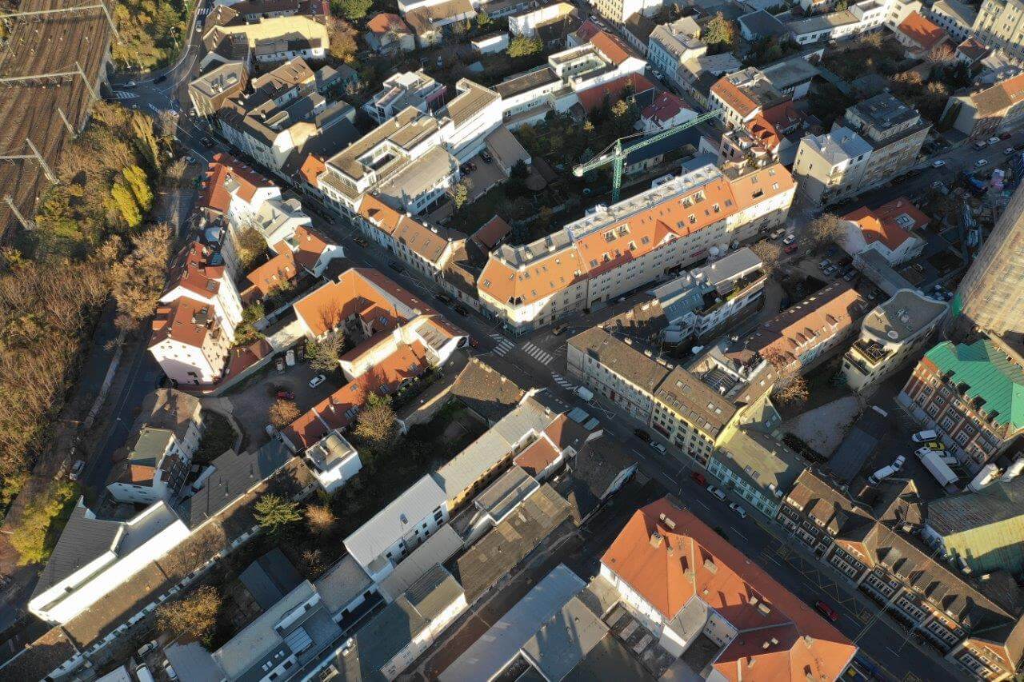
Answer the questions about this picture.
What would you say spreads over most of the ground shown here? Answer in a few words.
buildings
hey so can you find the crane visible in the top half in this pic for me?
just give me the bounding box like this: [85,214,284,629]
[568,108,722,208]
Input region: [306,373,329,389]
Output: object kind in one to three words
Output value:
car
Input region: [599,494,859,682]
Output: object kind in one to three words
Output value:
building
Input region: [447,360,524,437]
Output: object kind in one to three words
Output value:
house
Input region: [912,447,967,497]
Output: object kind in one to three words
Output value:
truck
